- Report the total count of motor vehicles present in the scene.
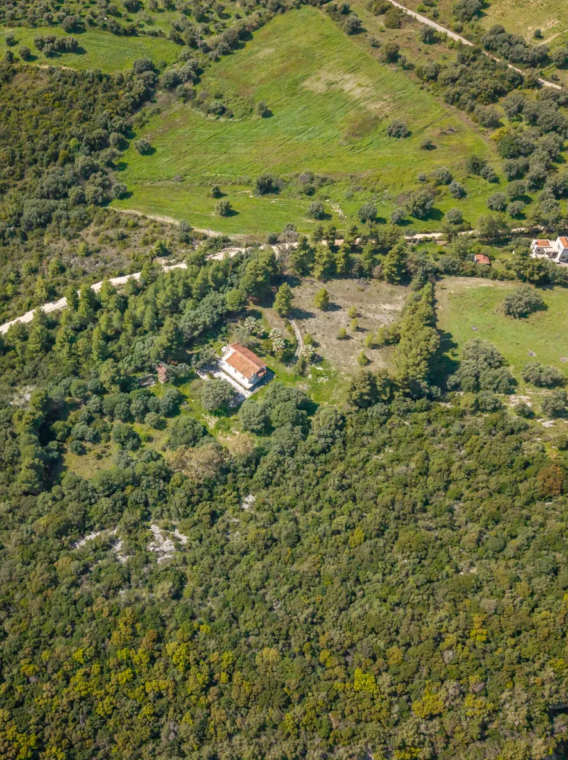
0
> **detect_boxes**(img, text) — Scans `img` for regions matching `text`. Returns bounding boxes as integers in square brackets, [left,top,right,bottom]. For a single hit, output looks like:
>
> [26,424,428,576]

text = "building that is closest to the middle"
[217,344,270,393]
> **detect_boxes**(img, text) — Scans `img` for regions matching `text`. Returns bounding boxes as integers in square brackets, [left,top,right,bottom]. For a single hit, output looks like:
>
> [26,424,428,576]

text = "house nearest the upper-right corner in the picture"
[531,237,568,260]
